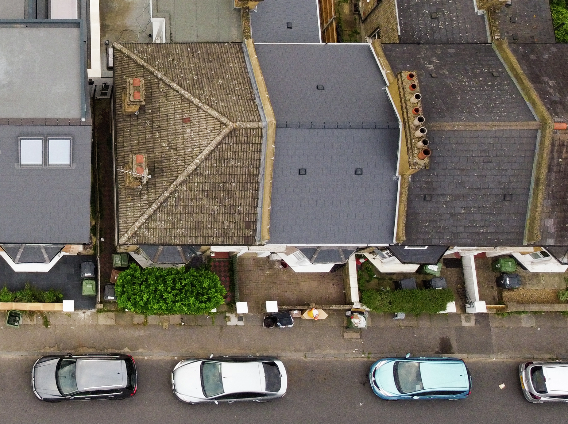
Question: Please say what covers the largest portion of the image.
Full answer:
What you mostly see from above here is buildings.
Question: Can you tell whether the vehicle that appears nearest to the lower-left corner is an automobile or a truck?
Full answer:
It turns out the vehicle that appears nearest to the lower-left corner is an automobile.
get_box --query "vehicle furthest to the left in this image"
[31,348,137,405]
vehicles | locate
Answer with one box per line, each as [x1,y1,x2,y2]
[31,348,137,405]
[364,351,473,406]
[169,349,287,407]
[510,357,568,404]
